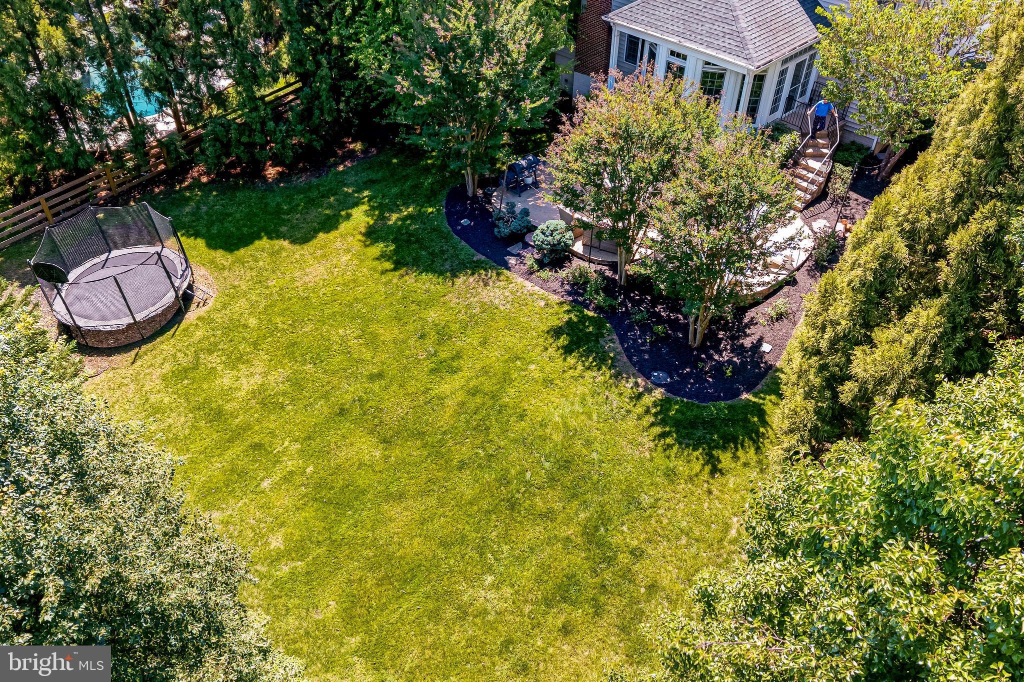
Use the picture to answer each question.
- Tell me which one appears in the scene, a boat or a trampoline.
trampoline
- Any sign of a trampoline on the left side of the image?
Yes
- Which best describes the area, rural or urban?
rural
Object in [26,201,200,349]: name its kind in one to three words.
trampoline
